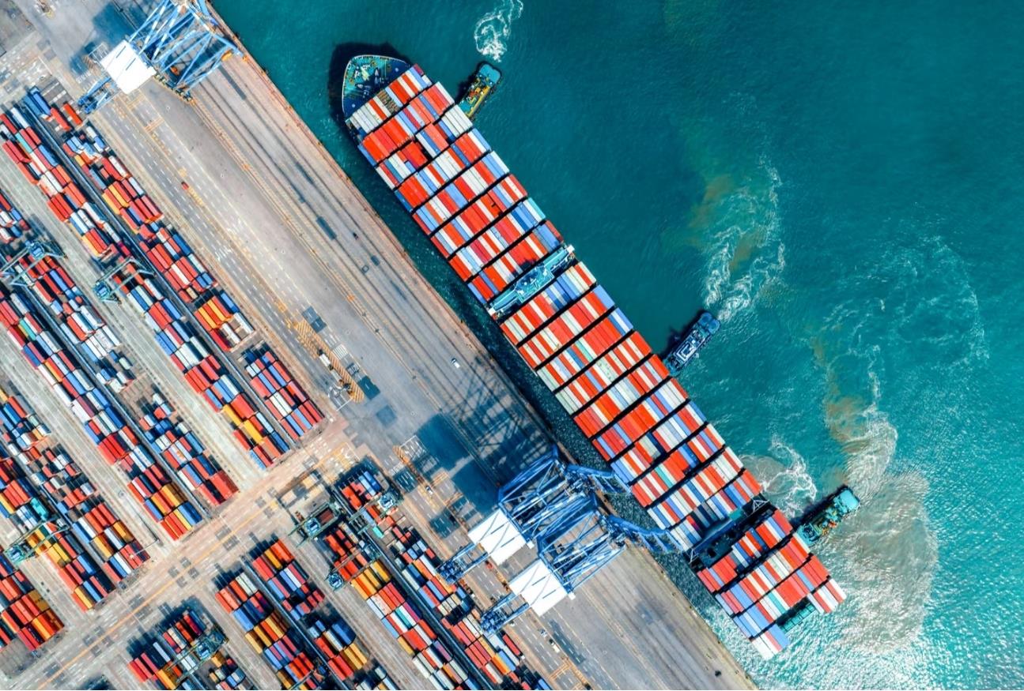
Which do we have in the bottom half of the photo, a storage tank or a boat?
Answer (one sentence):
There is a boat in the bottom half of the photo.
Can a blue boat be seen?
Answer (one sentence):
Yes, the image includes a blue boat.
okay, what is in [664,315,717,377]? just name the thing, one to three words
boat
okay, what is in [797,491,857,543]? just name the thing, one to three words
boat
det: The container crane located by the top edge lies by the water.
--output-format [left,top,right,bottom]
[70,0,251,126]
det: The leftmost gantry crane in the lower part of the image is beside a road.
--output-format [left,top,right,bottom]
[2,509,84,570]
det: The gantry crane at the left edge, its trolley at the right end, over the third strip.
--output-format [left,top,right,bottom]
[0,242,74,298]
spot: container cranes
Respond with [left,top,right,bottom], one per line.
[2,509,84,570]
[439,440,633,584]
[347,475,410,537]
[84,256,162,312]
[70,0,251,126]
[0,242,74,298]
[284,489,353,552]
[158,620,234,691]
[479,488,683,634]
[321,531,387,596]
